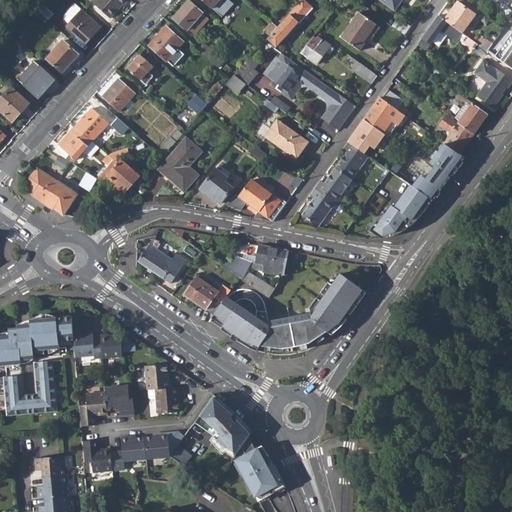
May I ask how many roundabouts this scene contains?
2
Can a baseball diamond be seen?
No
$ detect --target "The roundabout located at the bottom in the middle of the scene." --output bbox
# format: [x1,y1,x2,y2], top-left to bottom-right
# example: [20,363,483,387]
[264,384,328,447]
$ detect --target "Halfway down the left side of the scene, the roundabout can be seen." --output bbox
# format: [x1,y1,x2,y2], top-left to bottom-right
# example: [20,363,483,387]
[30,230,103,284]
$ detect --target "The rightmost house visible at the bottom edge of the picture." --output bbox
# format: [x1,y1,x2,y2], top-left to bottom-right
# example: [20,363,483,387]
[233,447,284,504]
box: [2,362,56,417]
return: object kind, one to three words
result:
building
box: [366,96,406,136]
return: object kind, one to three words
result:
house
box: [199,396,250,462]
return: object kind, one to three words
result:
house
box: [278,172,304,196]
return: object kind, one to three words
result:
shed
